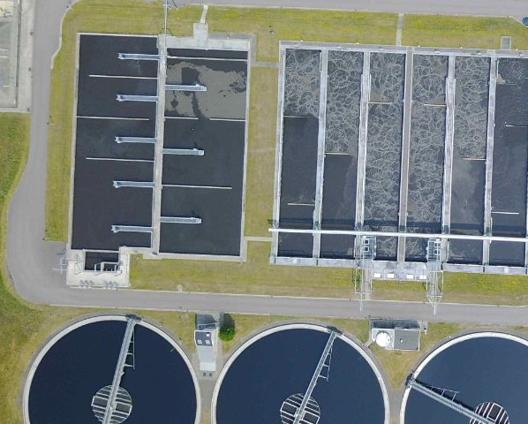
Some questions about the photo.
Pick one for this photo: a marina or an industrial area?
industrial area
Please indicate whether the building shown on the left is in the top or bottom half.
bottom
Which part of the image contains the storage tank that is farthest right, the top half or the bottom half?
bottom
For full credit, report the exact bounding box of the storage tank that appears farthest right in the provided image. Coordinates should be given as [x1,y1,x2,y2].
[395,326,528,424]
